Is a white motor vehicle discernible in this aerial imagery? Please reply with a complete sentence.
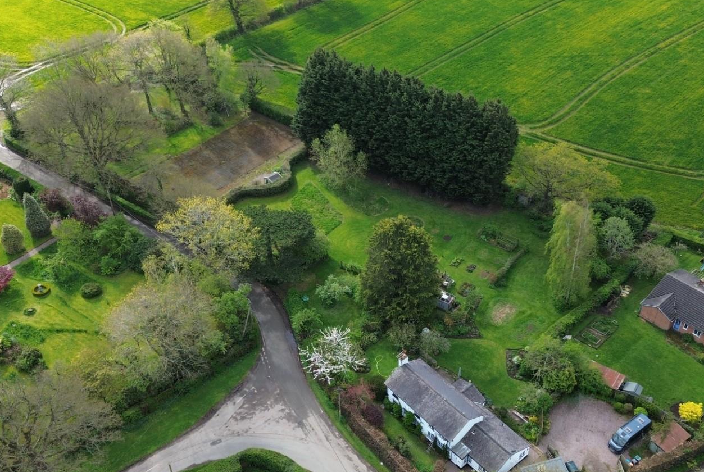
No, there isn't any white motor vehicle down there.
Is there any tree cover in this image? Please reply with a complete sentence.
Yes, there is tree cover in the image.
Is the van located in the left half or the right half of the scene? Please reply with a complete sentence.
It is on the right.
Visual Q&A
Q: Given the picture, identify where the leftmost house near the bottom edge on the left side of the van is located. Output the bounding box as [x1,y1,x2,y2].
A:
[384,352,529,472]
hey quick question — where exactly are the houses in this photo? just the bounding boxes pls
[384,352,529,472]
[640,271,704,348]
